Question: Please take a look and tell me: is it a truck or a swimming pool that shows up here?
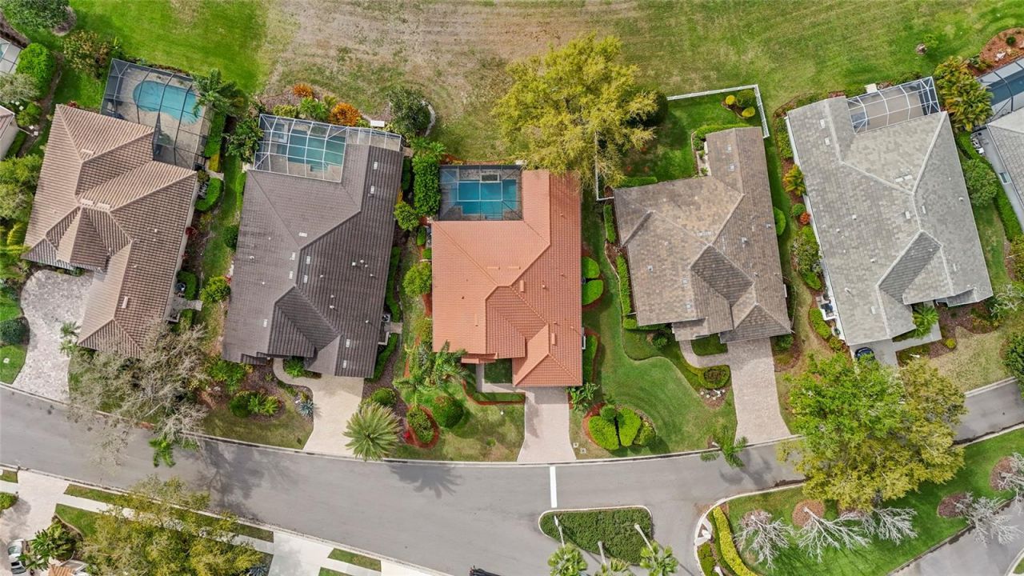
swimming pool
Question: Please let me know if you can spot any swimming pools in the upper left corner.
Yes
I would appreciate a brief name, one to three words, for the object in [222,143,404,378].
house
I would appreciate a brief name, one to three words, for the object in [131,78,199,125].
swimming pool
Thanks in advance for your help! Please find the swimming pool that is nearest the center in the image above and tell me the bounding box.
[442,170,520,220]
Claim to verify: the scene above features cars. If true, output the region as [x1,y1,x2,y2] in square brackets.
[0,533,26,576]
[467,566,507,576]
[853,343,882,388]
